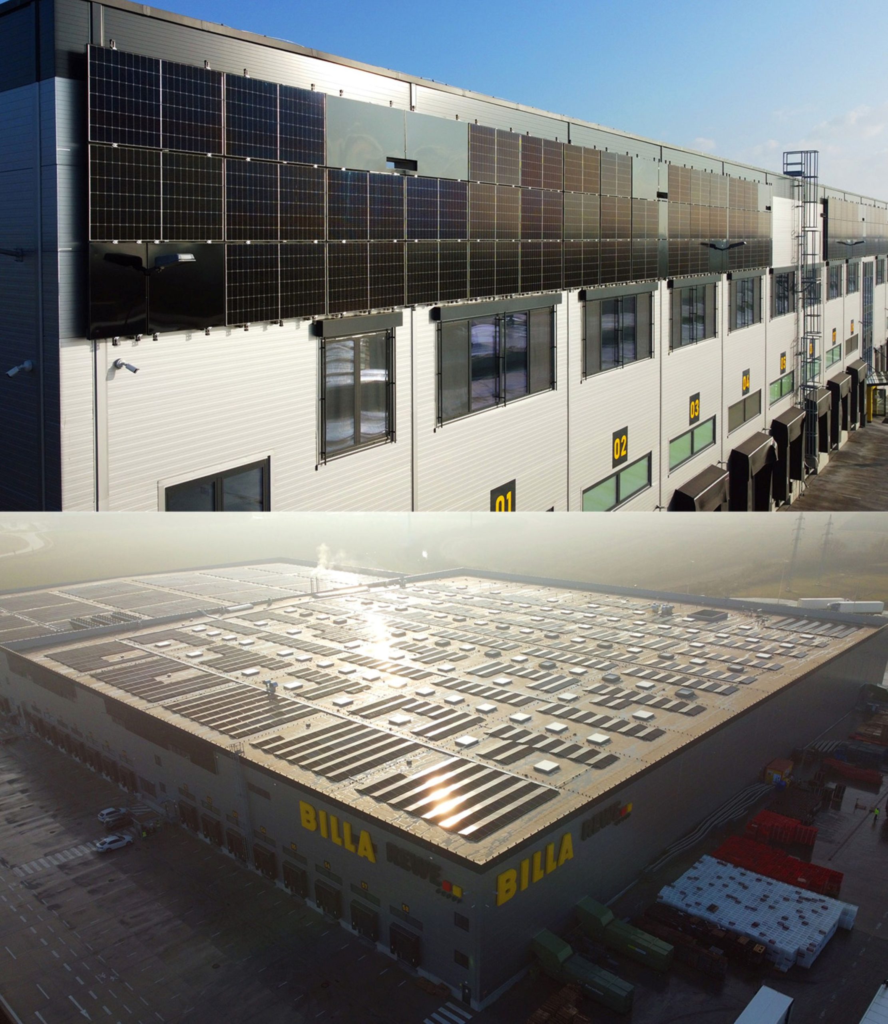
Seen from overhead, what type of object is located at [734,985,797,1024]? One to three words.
trailer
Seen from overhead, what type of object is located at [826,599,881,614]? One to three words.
trailer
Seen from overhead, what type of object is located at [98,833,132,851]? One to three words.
car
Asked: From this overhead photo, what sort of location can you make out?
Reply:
industrial area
